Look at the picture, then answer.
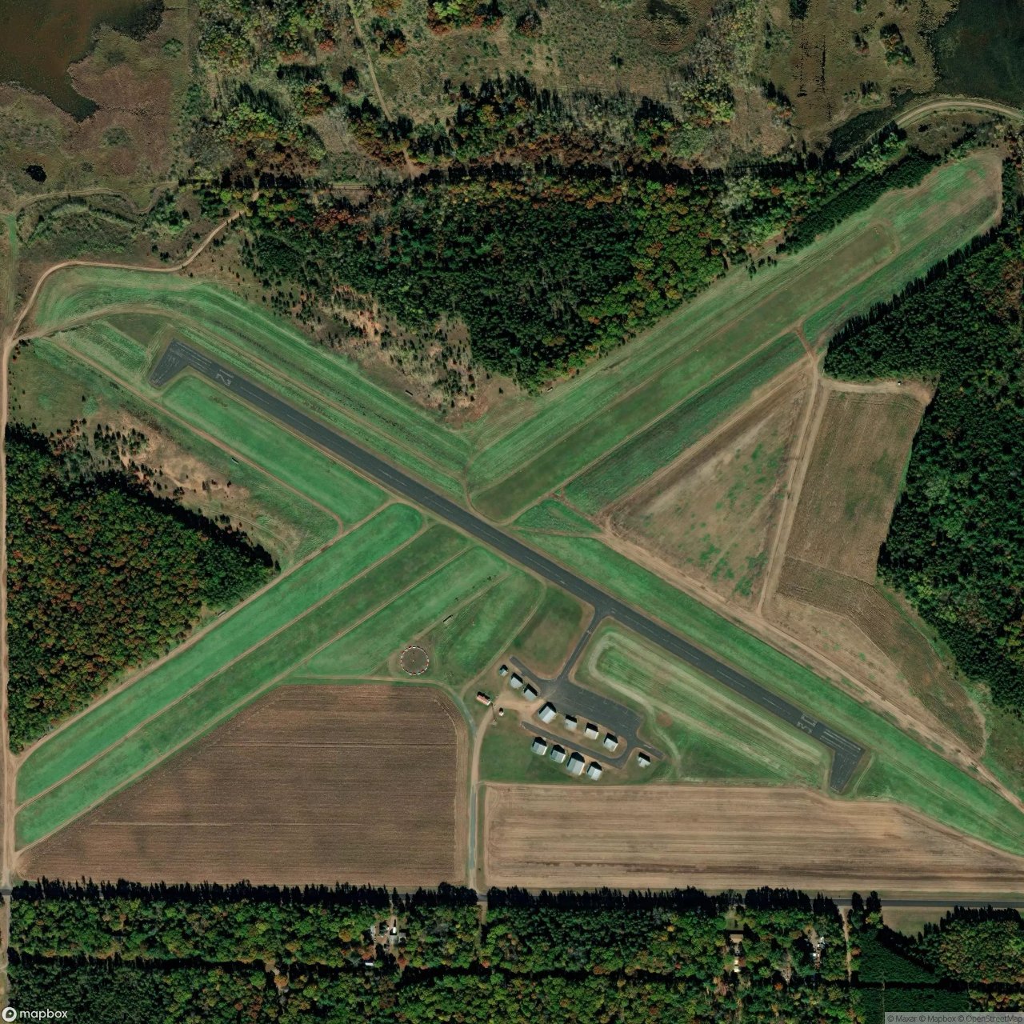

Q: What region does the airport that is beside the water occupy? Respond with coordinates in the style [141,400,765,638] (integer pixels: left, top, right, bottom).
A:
[18,226,895,848]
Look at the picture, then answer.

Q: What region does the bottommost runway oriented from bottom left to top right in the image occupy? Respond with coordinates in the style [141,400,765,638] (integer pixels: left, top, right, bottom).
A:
[18,525,471,848]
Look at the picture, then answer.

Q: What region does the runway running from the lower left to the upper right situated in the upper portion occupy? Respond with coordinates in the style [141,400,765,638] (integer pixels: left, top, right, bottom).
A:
[476,226,895,519]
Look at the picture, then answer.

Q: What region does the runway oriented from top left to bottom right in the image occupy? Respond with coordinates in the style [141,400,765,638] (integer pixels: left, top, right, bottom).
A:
[150,338,865,793]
